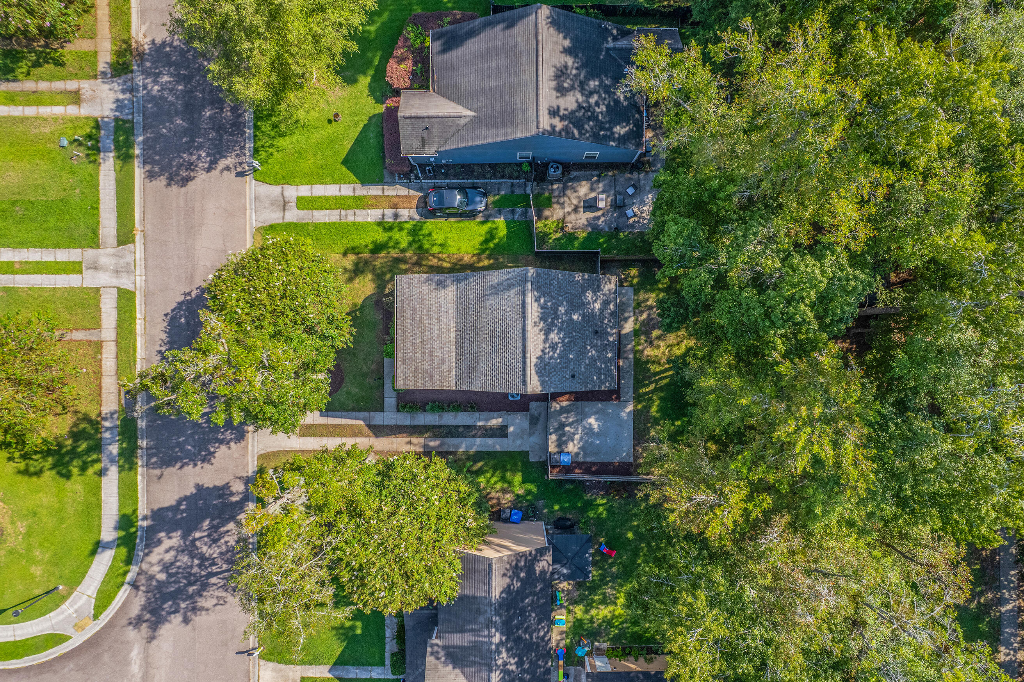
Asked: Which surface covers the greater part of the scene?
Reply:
trees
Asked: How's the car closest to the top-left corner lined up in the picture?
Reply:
horizontally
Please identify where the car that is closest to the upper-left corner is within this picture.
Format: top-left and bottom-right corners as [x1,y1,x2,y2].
[426,183,488,214]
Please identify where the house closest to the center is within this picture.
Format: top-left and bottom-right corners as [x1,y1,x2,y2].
[394,268,620,394]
